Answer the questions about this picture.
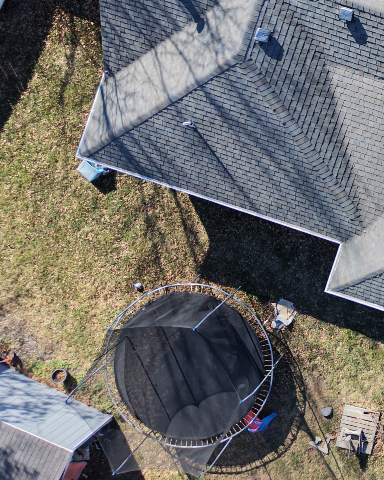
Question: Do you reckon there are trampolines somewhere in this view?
Yes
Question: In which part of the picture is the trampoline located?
bottom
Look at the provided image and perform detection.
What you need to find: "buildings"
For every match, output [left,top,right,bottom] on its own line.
[0,361,101,480]
[76,0,384,311]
